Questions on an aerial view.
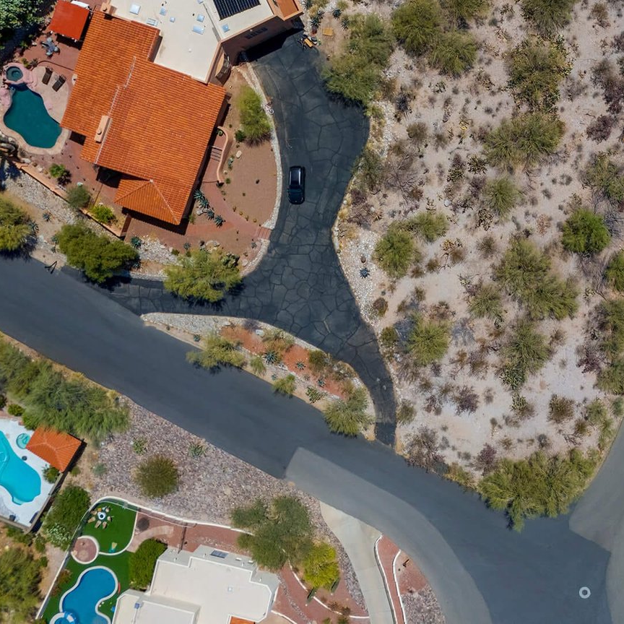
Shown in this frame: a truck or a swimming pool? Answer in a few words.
swimming pool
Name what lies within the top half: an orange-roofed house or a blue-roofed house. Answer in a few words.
orange-roofed house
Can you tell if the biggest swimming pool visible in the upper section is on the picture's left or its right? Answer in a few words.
left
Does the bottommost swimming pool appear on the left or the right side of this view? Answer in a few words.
left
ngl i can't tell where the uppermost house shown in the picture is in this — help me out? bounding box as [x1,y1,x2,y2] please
[61,0,310,225]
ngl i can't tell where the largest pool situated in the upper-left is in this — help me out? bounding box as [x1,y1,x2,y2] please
[2,81,63,149]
